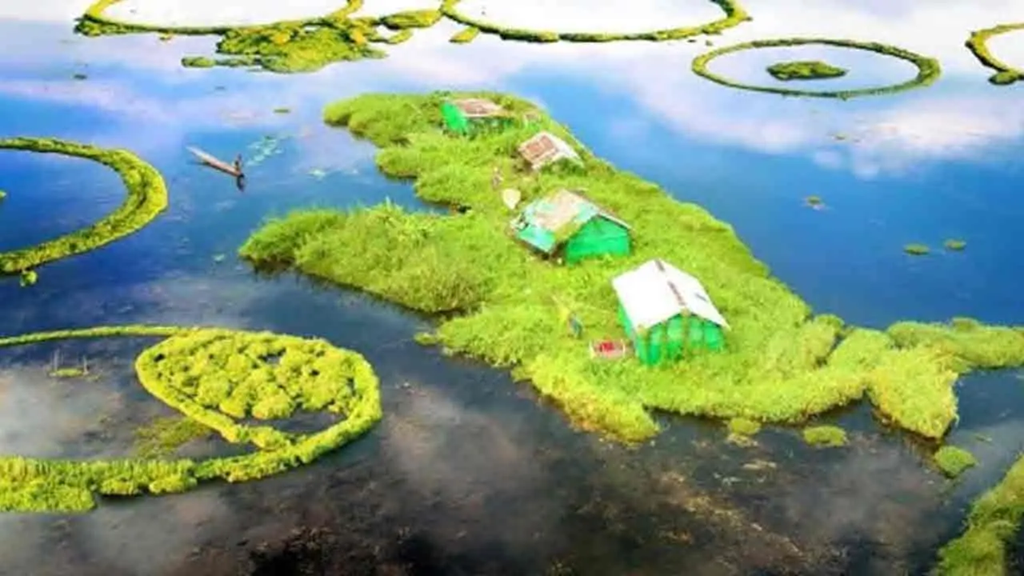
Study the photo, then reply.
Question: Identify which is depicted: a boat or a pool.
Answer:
boat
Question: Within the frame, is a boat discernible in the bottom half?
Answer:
No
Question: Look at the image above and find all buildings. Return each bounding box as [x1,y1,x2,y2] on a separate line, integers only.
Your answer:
[612,262,730,362]
[520,132,585,177]
[525,110,540,125]
[439,94,514,137]
[511,186,631,277]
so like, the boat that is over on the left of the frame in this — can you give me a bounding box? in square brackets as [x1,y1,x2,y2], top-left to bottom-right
[186,141,243,175]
